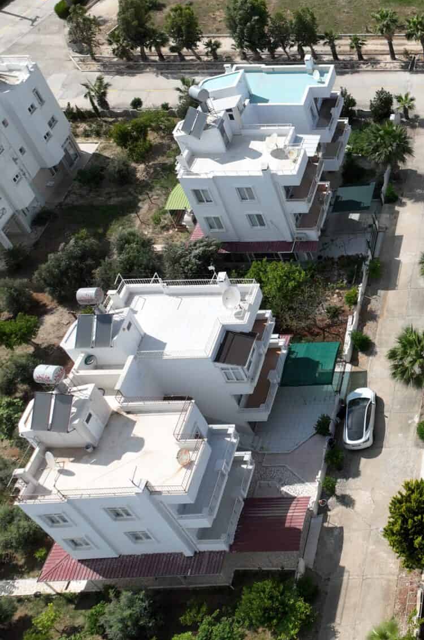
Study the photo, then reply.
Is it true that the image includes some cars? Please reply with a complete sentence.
Yes, there's a car down there.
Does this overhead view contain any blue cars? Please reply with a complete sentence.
No, I can't see a single blue car in this photo.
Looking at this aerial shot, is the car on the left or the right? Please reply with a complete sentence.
The car sits on the right side.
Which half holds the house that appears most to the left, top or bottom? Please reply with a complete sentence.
You can find the house that appears most to the left in the top half.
